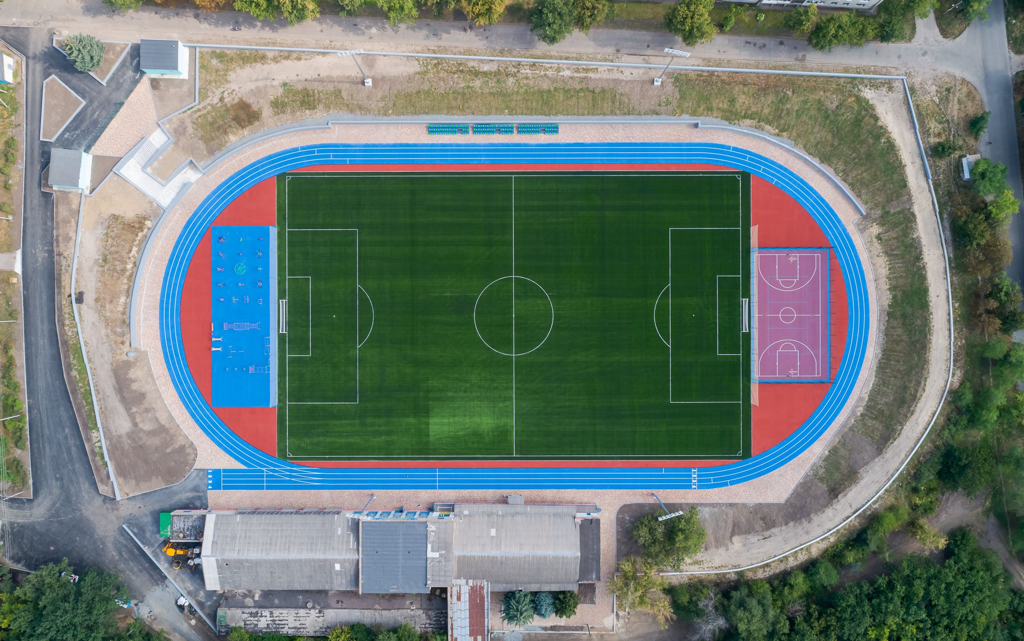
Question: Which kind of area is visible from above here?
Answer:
sports ground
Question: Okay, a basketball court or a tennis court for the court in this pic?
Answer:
basketball court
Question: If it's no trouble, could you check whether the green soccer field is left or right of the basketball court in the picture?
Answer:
left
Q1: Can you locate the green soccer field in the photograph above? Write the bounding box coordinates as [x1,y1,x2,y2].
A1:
[276,171,752,461]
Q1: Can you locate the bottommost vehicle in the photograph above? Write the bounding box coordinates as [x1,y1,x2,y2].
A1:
[162,542,192,558]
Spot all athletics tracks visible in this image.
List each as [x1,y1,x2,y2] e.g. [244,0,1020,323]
[159,143,869,490]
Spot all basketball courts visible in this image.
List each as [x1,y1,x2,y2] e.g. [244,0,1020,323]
[752,248,830,382]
